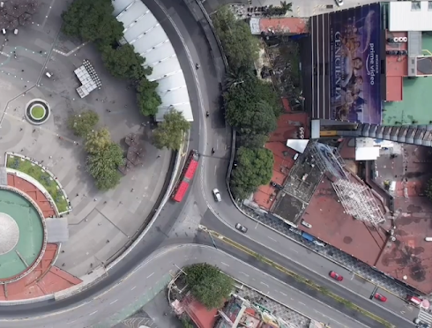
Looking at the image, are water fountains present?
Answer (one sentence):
Yes, there's a water fountain here.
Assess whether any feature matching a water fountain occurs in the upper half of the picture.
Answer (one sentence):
Yes, a water fountain is visible in the upper half of the picture.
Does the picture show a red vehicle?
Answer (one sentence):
Yes, the picture does show a red vehicle.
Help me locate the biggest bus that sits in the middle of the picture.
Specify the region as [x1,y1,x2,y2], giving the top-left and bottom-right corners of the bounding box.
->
[169,150,199,202]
